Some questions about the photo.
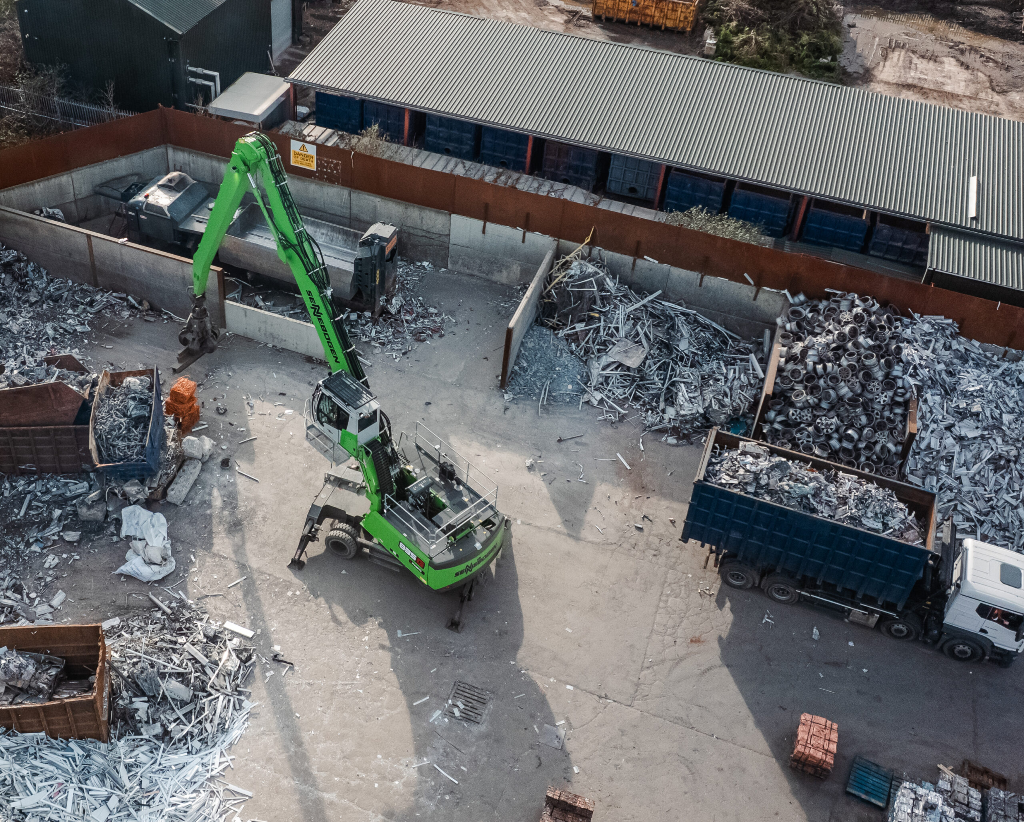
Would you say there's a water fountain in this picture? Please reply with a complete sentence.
No, the photo shows no water fountain.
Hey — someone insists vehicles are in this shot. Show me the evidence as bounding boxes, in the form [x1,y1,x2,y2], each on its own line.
[686,523,1024,672]
[188,126,520,646]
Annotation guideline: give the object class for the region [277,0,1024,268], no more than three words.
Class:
shed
